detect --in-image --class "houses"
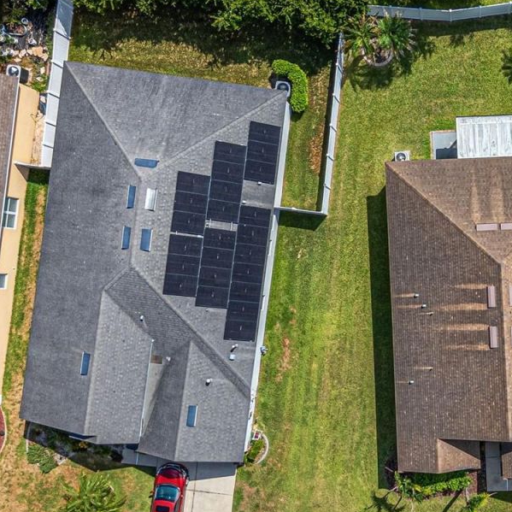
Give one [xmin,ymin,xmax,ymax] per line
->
[0,76,38,401]
[384,157,512,479]
[20,61,290,463]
